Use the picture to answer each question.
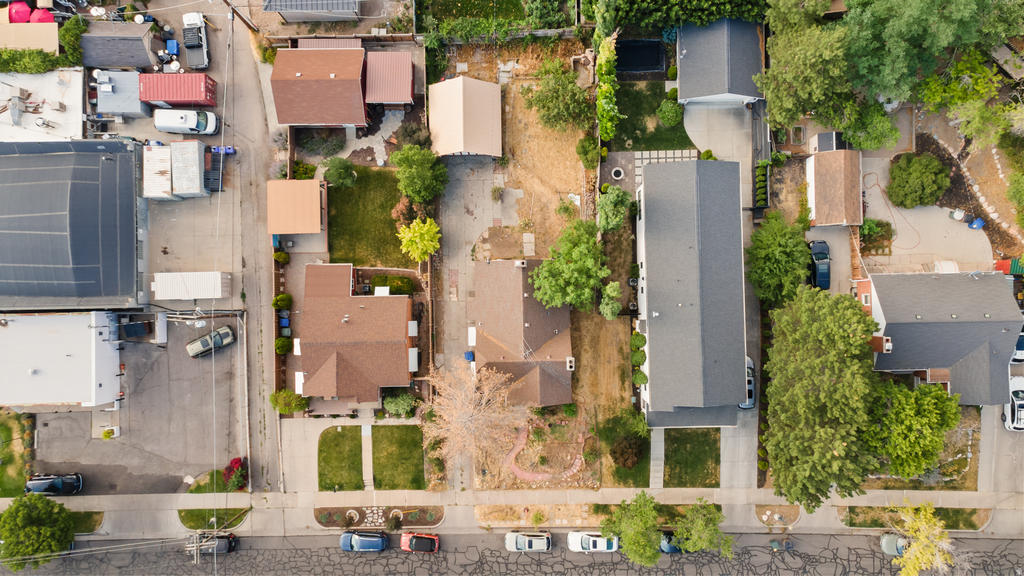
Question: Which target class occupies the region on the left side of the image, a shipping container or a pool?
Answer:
shipping container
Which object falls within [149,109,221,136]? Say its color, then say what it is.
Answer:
white vehicle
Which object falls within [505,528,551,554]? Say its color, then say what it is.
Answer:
white car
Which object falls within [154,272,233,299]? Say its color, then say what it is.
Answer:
white shipping container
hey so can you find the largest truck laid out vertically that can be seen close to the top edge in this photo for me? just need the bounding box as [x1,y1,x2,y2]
[183,13,212,72]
